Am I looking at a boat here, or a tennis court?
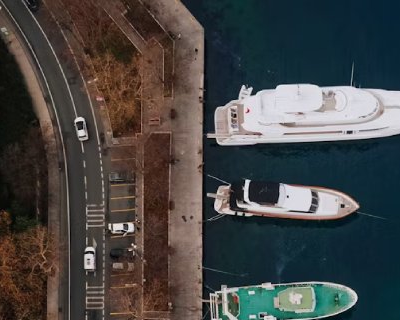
boat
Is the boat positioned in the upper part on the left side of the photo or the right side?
right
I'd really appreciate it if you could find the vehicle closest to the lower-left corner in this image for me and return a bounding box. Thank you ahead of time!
[81,245,95,271]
